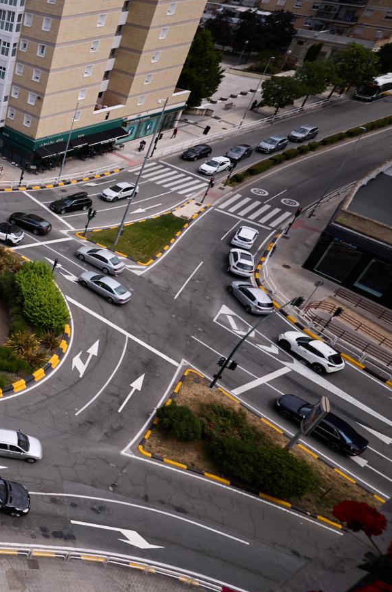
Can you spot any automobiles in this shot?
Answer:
Yes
